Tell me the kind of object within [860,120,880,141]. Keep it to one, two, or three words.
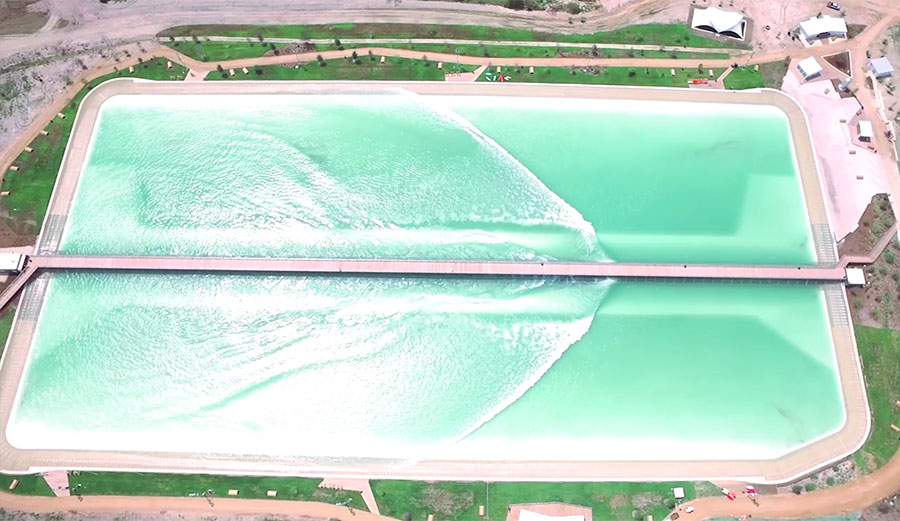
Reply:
shed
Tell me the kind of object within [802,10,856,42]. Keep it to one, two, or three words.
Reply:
building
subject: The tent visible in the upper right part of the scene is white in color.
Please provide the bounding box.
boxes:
[691,11,748,42]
